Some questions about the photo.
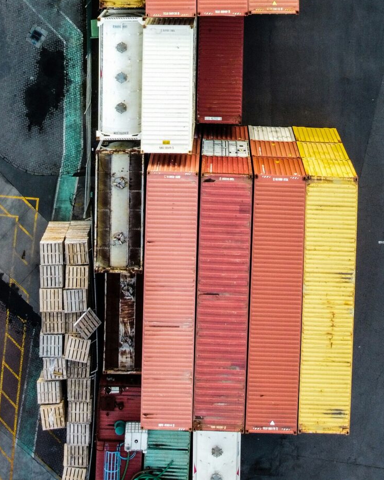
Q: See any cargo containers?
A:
Yes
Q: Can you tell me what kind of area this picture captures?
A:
industrial area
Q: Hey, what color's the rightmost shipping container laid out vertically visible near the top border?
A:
red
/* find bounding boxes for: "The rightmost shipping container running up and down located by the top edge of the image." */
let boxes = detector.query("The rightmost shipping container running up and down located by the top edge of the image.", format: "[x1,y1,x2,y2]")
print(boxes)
[198,15,242,124]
